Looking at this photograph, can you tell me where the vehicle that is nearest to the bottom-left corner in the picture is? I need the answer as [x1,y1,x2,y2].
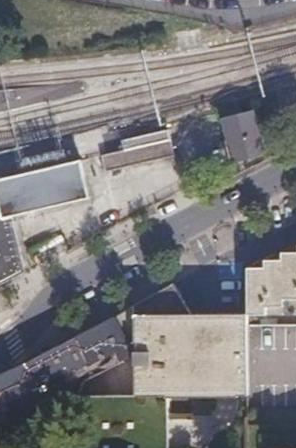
[78,286,99,302]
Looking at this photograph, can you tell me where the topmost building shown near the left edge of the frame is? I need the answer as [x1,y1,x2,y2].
[0,161,88,218]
